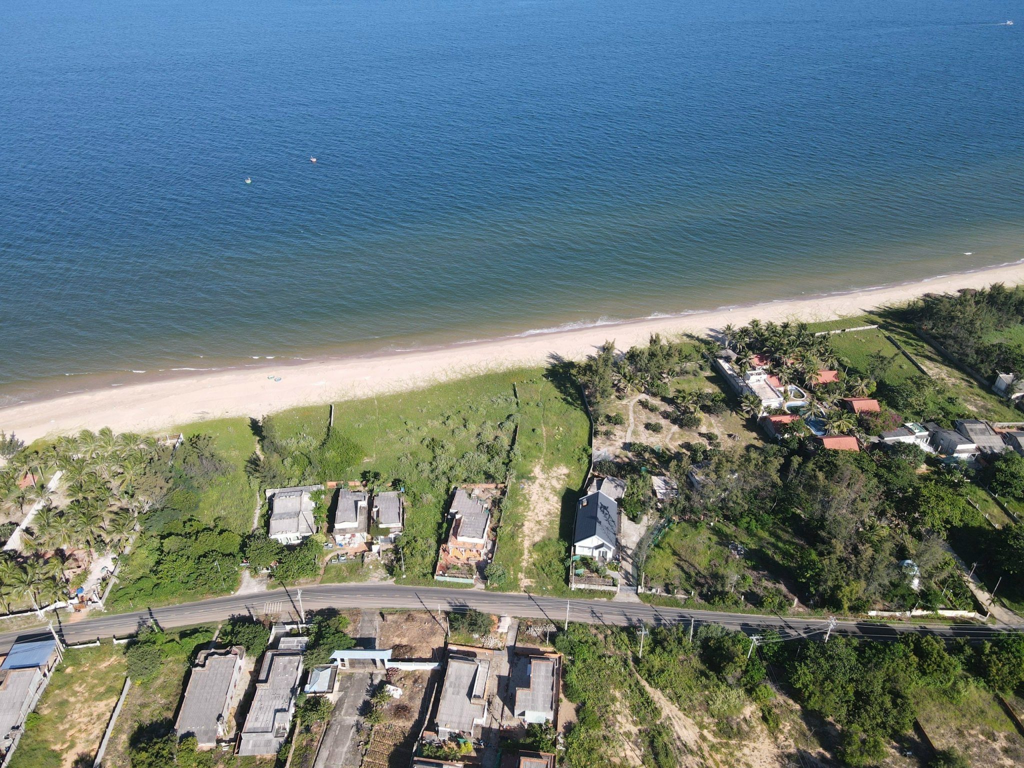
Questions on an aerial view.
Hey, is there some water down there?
Yes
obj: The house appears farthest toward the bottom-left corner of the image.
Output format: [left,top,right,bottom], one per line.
[0,667,43,759]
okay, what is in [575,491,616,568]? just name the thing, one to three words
house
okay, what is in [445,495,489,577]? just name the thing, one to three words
house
